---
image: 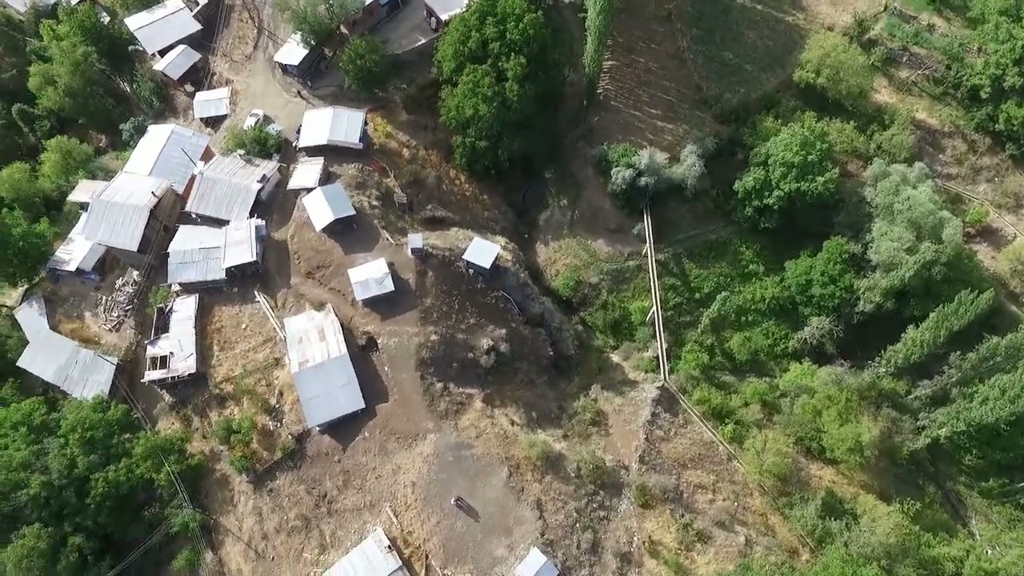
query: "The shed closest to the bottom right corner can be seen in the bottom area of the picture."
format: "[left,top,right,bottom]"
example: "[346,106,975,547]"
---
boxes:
[514,547,559,576]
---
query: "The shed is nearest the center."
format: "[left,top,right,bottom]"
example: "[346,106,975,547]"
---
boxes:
[462,237,500,281]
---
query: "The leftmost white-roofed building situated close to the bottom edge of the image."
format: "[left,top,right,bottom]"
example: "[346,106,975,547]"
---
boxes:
[310,527,410,576]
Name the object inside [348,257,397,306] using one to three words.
shed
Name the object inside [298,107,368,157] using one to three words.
house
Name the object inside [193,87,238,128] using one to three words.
house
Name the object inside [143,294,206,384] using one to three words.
barn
